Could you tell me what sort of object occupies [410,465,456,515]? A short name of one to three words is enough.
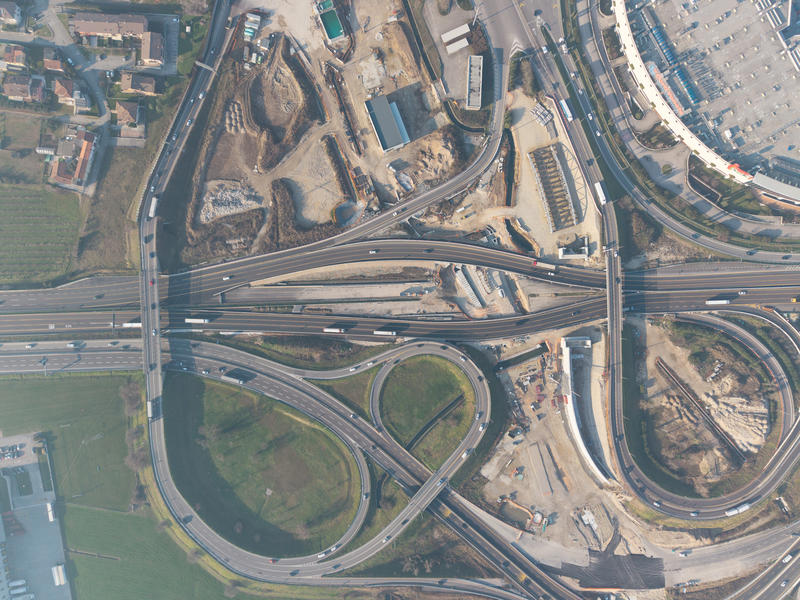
bridge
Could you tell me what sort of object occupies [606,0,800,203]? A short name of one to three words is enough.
building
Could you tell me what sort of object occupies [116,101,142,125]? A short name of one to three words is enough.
house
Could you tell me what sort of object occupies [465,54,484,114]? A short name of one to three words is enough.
building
